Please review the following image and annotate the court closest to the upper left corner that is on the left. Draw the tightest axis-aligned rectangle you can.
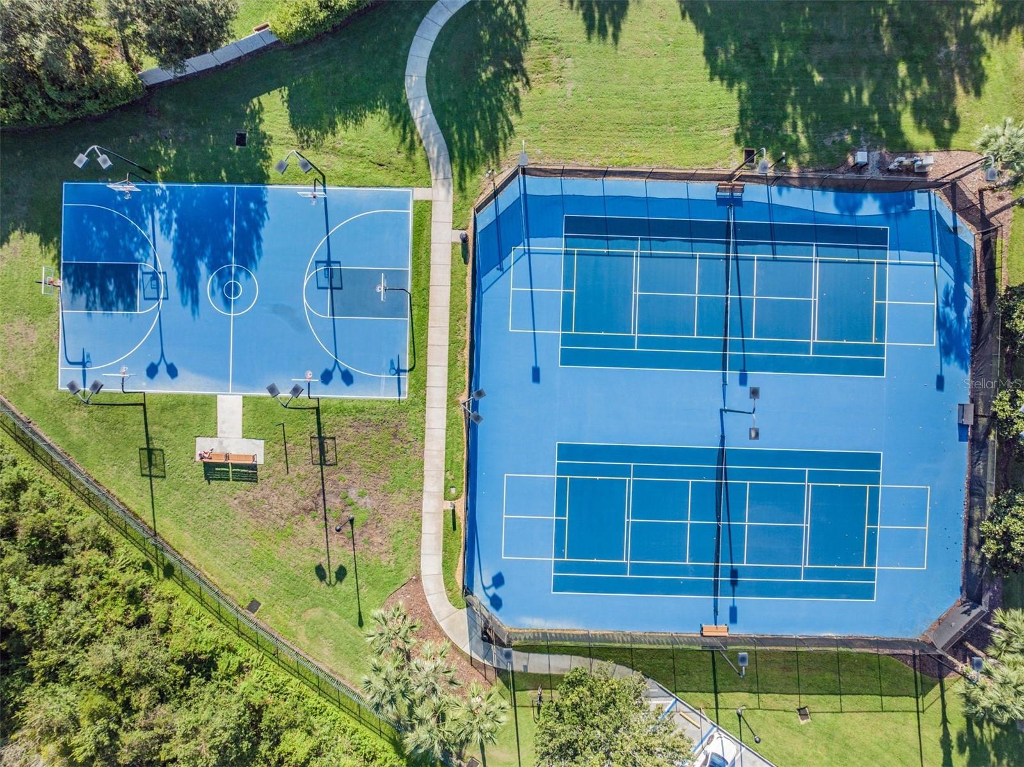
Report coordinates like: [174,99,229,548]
[57,181,413,400]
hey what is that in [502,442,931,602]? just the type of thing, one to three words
tennis court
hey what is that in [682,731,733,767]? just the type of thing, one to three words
car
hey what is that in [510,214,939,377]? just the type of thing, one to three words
tennis court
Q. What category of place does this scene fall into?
sports ground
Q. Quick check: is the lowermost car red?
No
